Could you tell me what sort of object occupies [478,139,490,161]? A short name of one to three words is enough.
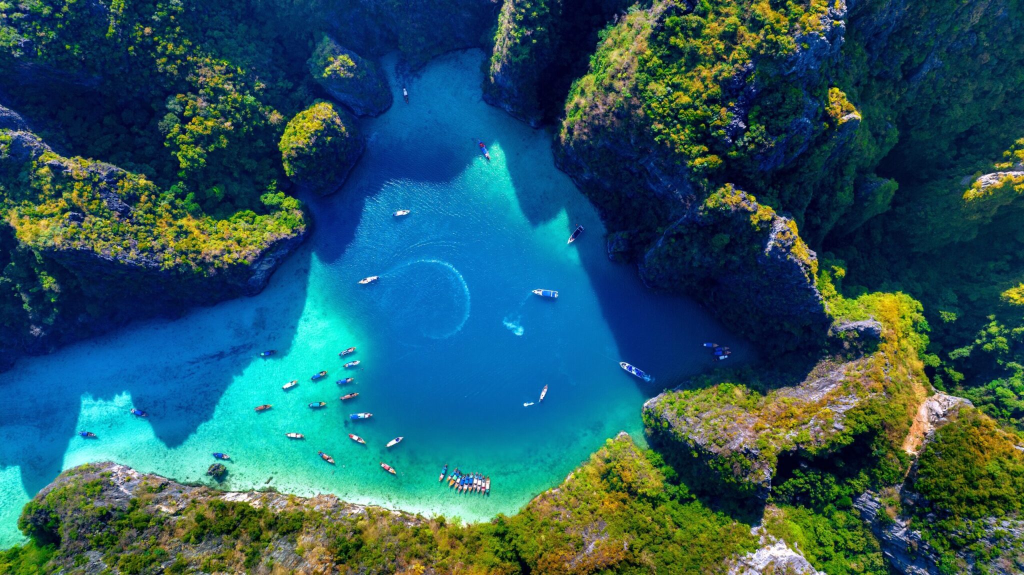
boat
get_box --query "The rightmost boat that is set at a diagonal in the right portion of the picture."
[620,362,650,382]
